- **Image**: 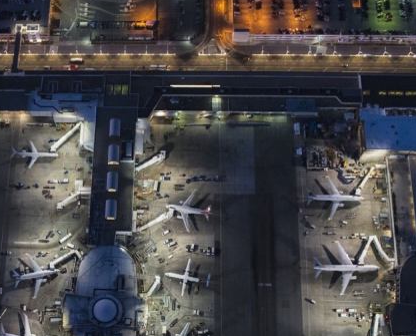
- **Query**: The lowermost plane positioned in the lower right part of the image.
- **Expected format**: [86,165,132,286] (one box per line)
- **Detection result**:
[316,236,378,295]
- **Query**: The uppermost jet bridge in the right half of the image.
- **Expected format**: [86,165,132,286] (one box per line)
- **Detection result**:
[355,166,375,197]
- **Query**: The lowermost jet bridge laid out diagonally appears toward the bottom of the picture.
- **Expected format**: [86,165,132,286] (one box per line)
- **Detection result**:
[145,273,162,298]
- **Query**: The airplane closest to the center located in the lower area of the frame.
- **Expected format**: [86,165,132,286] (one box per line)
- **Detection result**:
[167,188,210,231]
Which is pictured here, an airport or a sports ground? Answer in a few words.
airport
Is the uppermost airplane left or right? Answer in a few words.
left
